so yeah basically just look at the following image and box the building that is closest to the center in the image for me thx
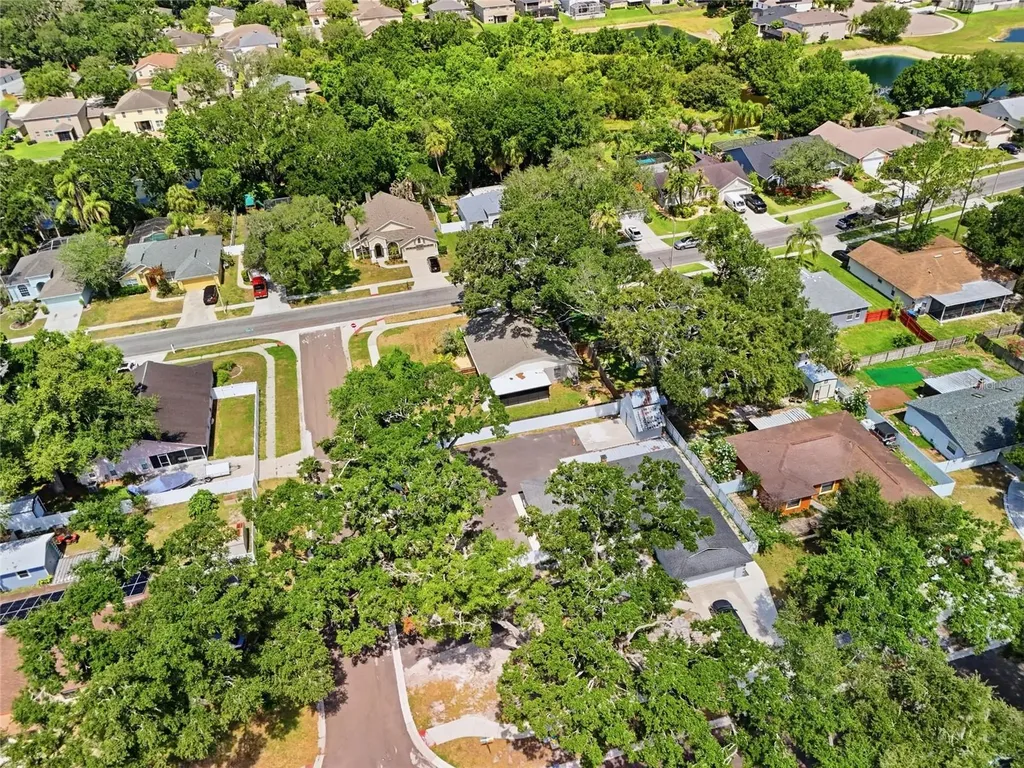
[470,302,583,415]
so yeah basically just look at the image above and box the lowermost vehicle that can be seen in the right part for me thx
[709,590,754,635]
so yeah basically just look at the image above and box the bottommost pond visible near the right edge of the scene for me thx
[846,55,1007,111]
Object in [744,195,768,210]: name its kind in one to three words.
vehicle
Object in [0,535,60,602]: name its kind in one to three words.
shed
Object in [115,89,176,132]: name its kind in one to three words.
house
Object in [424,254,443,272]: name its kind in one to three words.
car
